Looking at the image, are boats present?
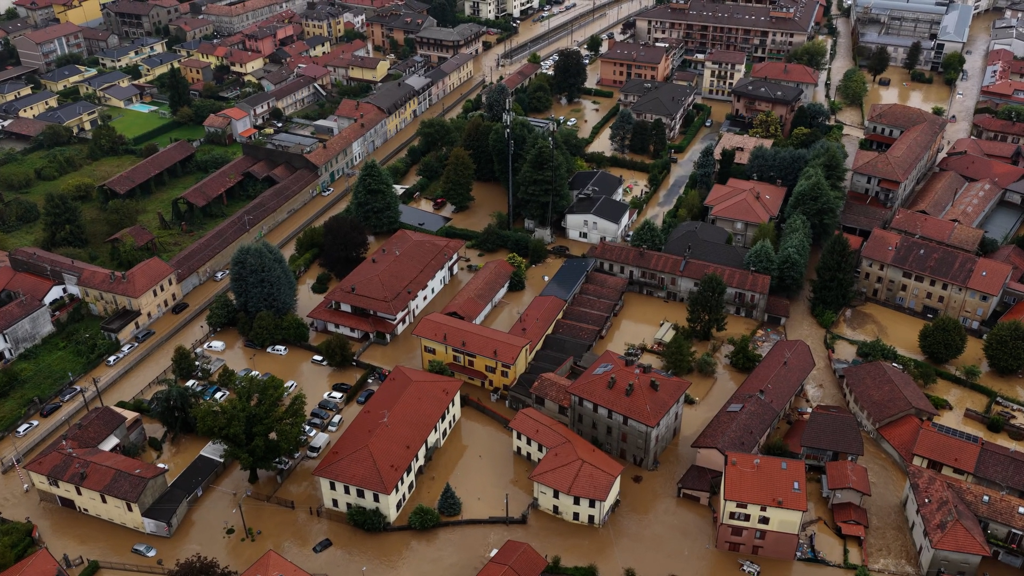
No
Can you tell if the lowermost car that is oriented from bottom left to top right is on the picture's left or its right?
left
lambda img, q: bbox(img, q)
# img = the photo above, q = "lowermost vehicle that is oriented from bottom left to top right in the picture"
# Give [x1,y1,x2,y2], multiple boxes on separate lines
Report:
[309,536,336,559]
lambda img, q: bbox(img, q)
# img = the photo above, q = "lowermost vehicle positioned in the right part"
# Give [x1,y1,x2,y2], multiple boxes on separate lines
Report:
[732,556,760,576]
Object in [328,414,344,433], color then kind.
white car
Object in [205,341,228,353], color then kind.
white vehicle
